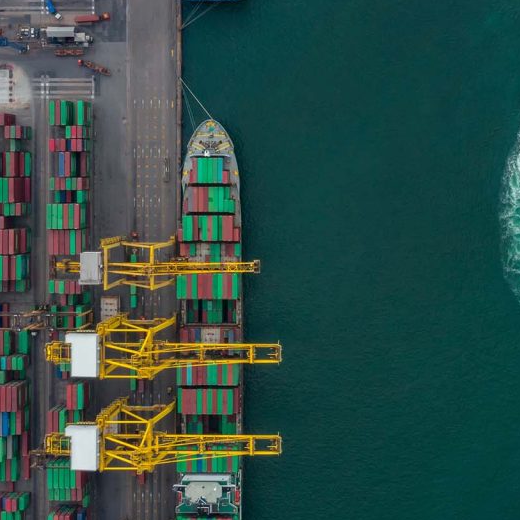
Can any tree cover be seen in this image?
No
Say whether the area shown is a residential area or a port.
port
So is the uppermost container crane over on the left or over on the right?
left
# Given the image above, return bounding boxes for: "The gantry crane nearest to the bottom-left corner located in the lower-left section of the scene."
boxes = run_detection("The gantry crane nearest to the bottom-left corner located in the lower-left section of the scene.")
[28,437,72,468]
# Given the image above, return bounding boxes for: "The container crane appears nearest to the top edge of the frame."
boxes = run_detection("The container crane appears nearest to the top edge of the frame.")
[49,234,263,291]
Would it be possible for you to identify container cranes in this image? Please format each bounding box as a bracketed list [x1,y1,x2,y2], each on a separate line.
[45,310,282,381]
[28,437,72,468]
[49,234,263,291]
[29,306,94,330]
[46,393,282,473]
